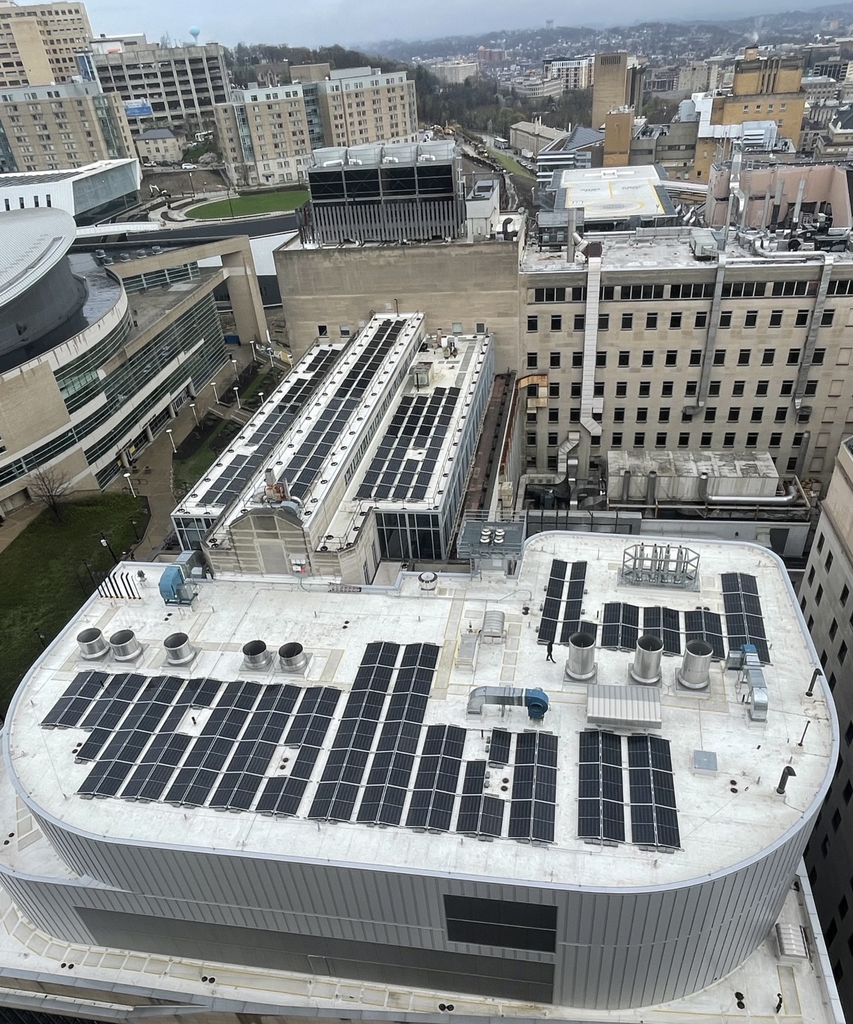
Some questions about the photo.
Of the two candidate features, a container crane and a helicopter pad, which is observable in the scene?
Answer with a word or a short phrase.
helicopter pad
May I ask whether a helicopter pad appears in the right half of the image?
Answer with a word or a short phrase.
Yes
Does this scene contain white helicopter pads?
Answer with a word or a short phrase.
Yes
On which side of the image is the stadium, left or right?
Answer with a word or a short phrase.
left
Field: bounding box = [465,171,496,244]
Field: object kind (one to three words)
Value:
shed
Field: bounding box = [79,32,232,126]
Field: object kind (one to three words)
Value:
building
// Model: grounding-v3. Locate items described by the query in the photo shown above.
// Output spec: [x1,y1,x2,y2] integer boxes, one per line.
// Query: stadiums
[0,208,271,552]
